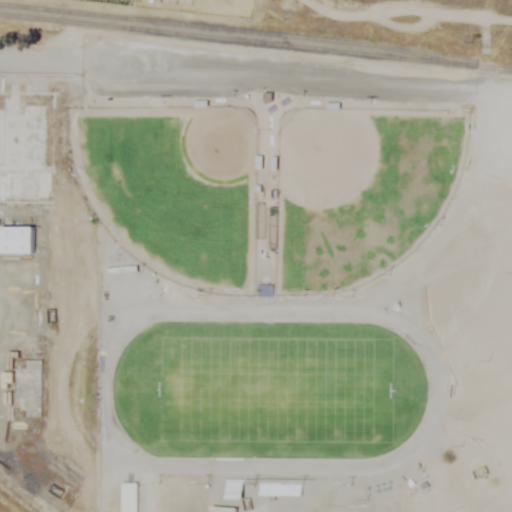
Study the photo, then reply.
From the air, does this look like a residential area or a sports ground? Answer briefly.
sports ground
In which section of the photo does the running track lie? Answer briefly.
bottom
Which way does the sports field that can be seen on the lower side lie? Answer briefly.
from left to right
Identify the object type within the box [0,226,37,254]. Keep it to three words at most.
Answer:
building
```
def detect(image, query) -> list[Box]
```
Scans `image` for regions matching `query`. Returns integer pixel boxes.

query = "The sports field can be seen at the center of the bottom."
[114,321,428,458]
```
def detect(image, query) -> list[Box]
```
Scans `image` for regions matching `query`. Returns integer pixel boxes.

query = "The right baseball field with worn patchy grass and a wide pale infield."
[282,108,472,296]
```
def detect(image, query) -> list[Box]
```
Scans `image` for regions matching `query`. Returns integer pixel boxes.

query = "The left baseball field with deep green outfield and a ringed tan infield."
[70,109,256,296]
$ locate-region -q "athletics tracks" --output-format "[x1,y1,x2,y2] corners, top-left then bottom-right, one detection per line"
[100,305,442,474]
